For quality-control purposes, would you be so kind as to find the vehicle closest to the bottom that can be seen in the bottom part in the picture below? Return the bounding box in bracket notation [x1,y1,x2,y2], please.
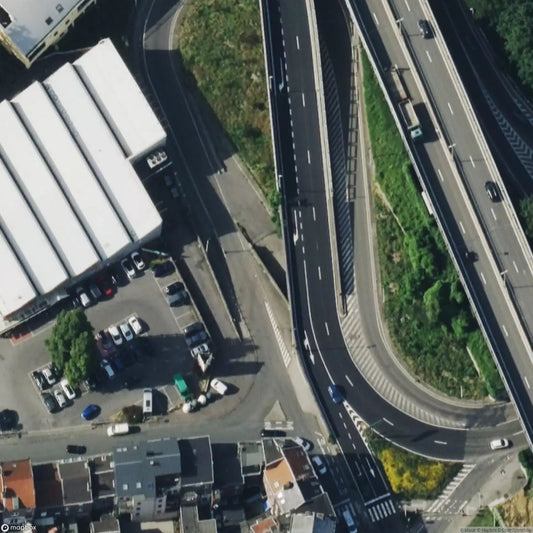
[342,509,356,531]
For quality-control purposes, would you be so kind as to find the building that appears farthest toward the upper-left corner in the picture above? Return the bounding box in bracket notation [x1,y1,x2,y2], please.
[0,0,107,79]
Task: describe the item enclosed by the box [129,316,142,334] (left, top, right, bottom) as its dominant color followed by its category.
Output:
white vehicle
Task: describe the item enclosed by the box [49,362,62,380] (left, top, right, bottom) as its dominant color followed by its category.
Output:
black vehicle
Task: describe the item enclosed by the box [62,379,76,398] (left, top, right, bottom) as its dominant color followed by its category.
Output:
white car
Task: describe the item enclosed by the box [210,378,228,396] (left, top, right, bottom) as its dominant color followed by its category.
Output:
white car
